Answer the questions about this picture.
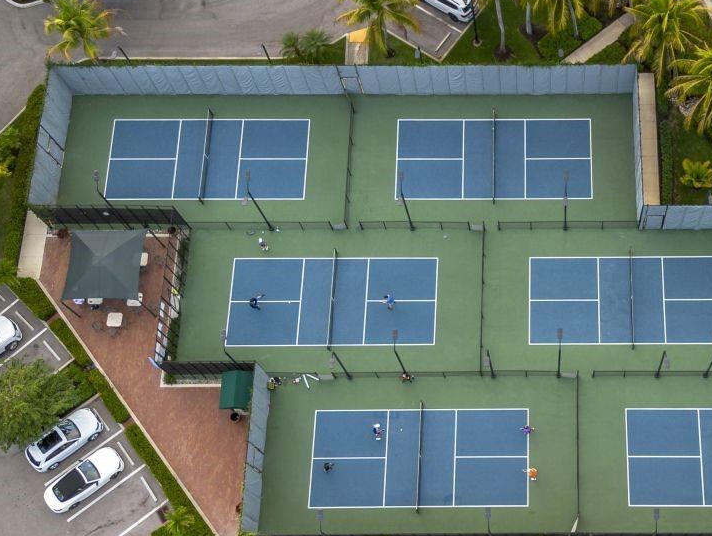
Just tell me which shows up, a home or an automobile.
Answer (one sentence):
The one in the frame is an automobile.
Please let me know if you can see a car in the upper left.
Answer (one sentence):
No, looking in the upper left, there is no car.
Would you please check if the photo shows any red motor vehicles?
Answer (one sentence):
No, I can see no red motor vehicle in this picture.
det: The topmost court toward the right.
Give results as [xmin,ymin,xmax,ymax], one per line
[347,93,638,229]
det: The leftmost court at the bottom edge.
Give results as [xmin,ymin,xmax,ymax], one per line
[259,376,578,535]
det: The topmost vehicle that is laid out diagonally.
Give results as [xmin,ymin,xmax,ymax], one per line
[25,409,103,472]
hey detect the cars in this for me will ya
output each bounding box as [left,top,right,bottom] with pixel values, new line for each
[25,409,103,472]
[43,449,126,516]
[0,319,23,359]
[415,0,478,22]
